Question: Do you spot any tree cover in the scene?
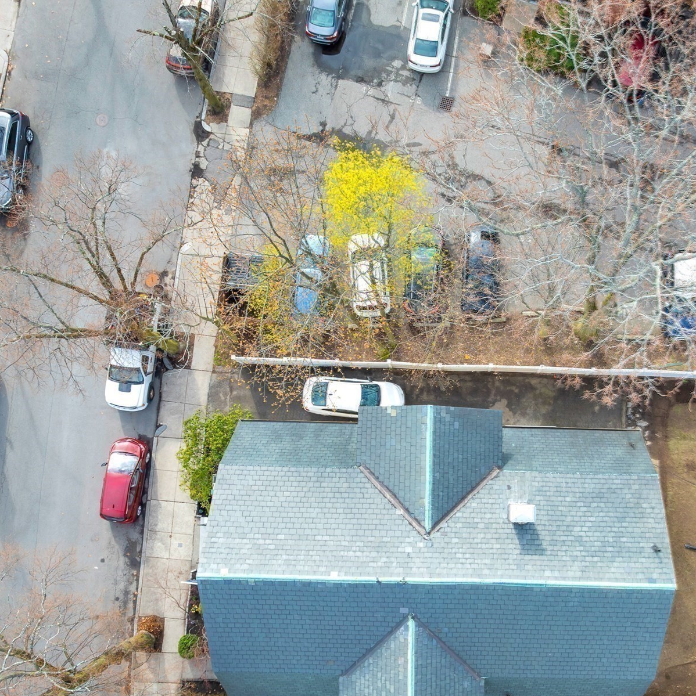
Yes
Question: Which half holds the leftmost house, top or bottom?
bottom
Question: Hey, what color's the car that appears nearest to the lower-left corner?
red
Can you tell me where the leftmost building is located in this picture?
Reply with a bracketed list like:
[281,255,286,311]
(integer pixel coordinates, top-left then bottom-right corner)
[182,404,679,696]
